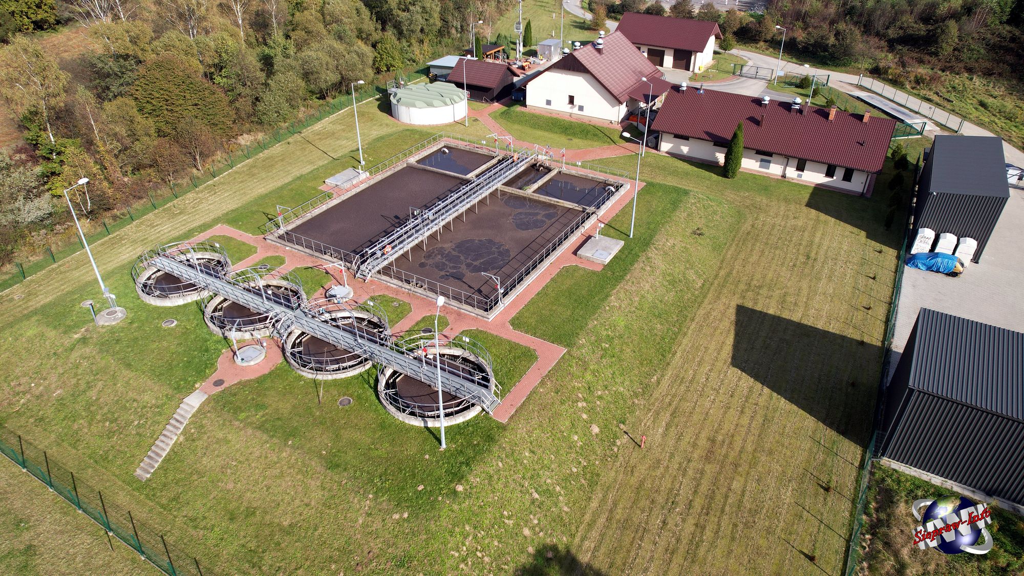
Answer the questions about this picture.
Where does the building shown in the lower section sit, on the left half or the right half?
right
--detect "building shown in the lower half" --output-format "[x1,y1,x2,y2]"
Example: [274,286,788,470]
[877,304,1024,515]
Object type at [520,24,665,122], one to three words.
house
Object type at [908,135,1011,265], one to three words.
building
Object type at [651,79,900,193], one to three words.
house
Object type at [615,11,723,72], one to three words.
building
